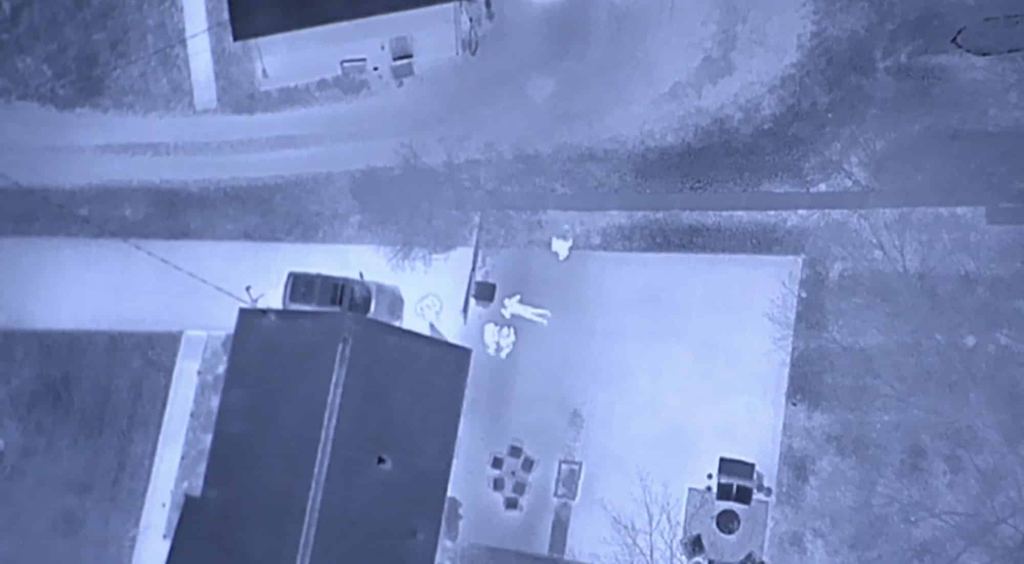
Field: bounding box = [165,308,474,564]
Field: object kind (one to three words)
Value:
house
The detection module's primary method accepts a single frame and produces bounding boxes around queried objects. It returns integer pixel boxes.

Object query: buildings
[165,308,474,564]
[226,0,473,46]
